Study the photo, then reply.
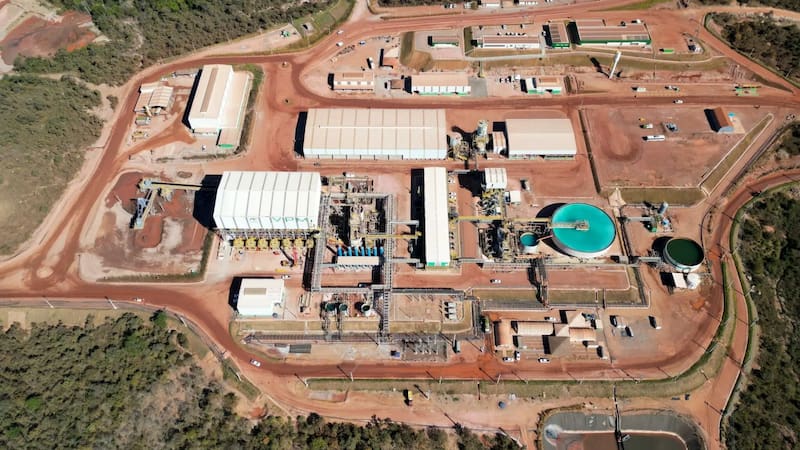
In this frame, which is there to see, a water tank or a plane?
water tank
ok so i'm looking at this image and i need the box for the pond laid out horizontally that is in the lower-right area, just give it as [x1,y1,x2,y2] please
[534,404,710,450]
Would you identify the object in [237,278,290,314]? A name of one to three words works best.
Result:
building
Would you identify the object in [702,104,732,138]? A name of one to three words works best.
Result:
barn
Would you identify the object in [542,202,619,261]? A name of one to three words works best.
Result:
storage tank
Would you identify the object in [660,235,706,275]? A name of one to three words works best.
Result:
water tank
